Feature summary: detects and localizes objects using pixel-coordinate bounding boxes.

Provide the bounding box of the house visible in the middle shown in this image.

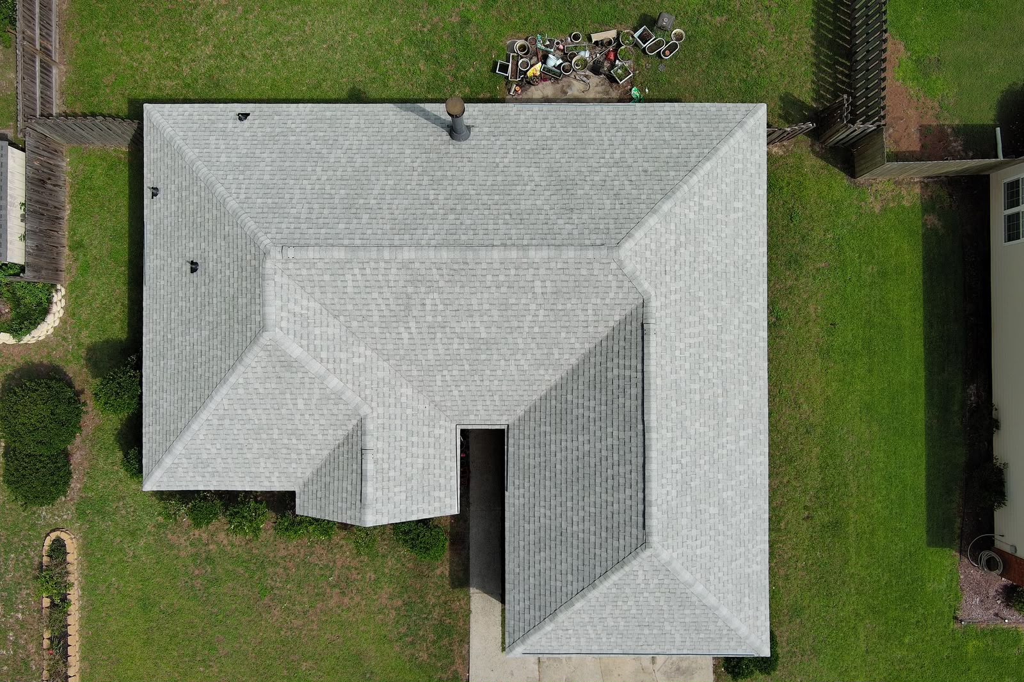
[142,98,771,659]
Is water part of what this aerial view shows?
No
